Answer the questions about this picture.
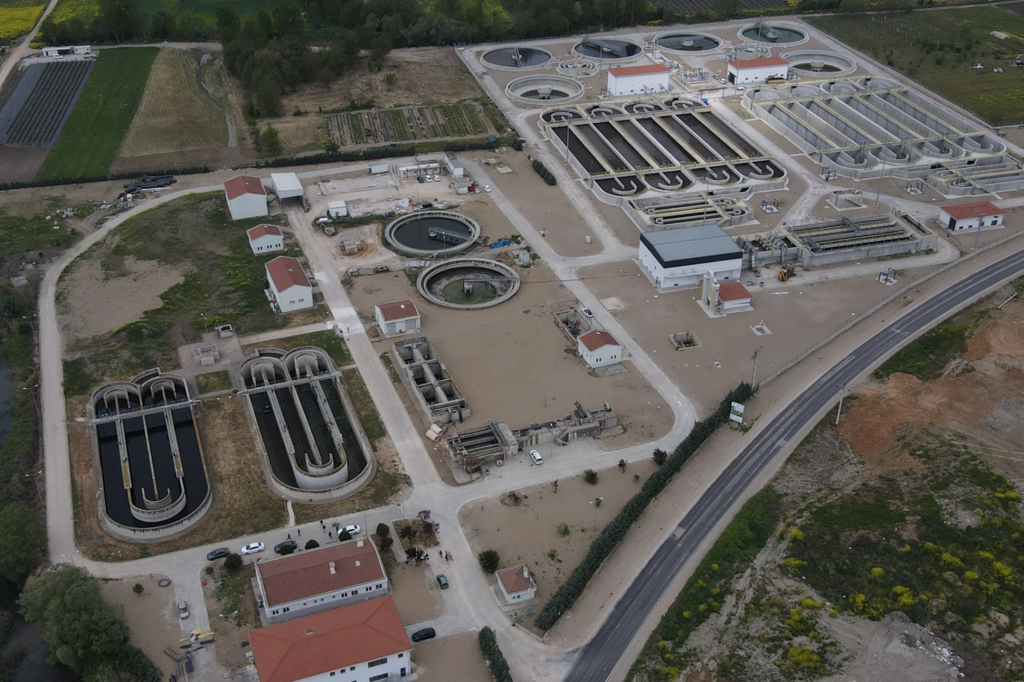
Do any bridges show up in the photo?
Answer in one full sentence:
Yes, looking at the shot, I can spot a bridge.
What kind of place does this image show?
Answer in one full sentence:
The area seen from above is an industrial area.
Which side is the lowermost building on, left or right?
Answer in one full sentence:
It is on the left.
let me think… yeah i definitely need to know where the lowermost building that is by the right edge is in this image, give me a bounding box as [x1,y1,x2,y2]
[934,200,1009,234]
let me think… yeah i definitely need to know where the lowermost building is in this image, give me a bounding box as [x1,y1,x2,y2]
[249,596,420,682]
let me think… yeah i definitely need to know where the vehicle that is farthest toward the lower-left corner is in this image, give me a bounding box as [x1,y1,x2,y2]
[176,601,189,620]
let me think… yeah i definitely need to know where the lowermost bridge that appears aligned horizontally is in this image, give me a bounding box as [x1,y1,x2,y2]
[85,395,201,429]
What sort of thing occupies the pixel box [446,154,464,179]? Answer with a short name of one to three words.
building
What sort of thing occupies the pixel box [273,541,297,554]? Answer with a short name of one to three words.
vehicle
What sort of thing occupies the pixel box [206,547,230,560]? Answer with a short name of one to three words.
vehicle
